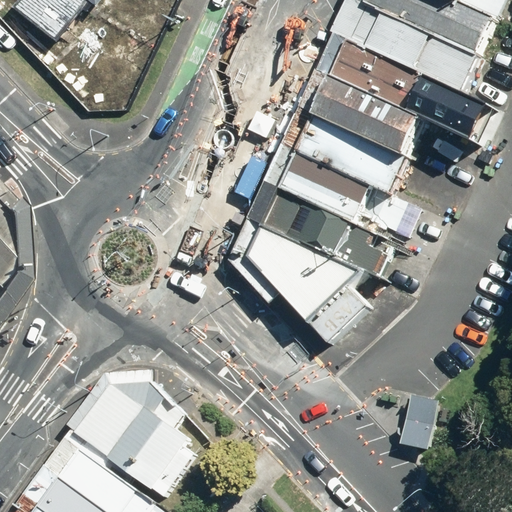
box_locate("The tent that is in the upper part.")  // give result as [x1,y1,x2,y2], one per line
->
[248,111,279,140]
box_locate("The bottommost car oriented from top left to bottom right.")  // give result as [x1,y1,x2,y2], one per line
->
[327,478,356,509]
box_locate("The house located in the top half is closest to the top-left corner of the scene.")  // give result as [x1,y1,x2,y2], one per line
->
[14,0,99,42]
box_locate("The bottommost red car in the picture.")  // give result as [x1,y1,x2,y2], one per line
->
[300,402,330,420]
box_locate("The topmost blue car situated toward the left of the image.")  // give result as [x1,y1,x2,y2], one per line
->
[153,107,178,138]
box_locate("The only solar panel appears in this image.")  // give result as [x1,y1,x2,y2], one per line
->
[290,204,310,232]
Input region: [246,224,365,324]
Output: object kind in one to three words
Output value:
building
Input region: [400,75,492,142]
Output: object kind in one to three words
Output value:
house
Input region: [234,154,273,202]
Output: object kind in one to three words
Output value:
shipping container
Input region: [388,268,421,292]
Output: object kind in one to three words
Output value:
car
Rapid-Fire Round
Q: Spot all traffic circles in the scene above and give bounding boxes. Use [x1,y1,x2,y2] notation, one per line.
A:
[97,226,160,288]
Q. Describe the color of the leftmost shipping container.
blue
